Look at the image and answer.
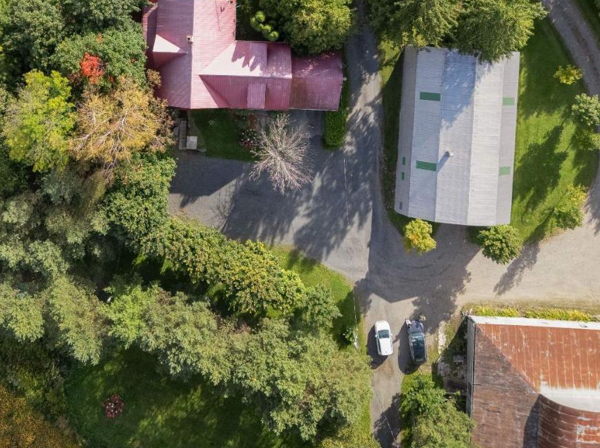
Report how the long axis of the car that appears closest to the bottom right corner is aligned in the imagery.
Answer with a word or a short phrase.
from top to bottom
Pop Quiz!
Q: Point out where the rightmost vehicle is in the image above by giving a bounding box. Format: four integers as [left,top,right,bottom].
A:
[406,321,427,362]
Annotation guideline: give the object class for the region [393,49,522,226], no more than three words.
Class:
shed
